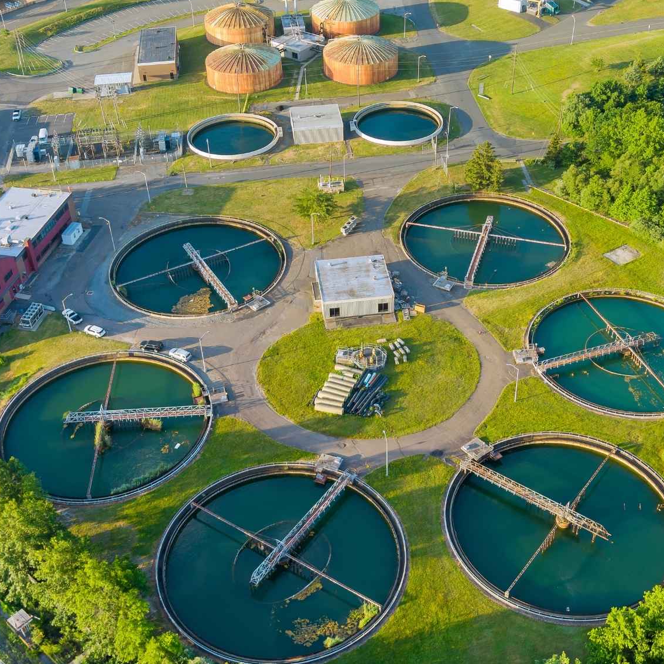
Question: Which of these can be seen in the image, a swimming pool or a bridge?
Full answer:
I can see a bridge in this picture.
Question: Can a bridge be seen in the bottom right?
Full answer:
Yes, a bridge appears in the bottom right.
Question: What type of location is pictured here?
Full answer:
This looks like an industrial area.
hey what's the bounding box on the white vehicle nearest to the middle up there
[167,345,192,360]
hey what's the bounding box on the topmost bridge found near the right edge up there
[528,331,657,380]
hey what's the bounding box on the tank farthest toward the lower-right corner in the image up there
[443,428,664,627]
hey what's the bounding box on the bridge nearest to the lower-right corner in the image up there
[458,454,605,541]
